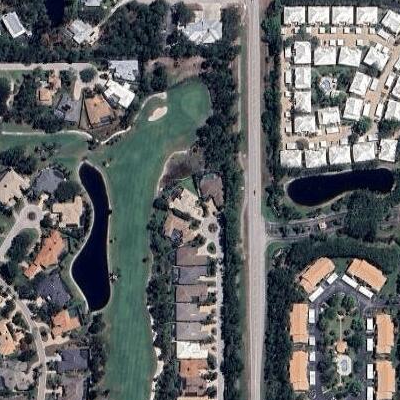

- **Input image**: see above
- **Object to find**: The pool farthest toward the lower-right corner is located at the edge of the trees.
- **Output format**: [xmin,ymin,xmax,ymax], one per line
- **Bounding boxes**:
[337,355,351,375]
